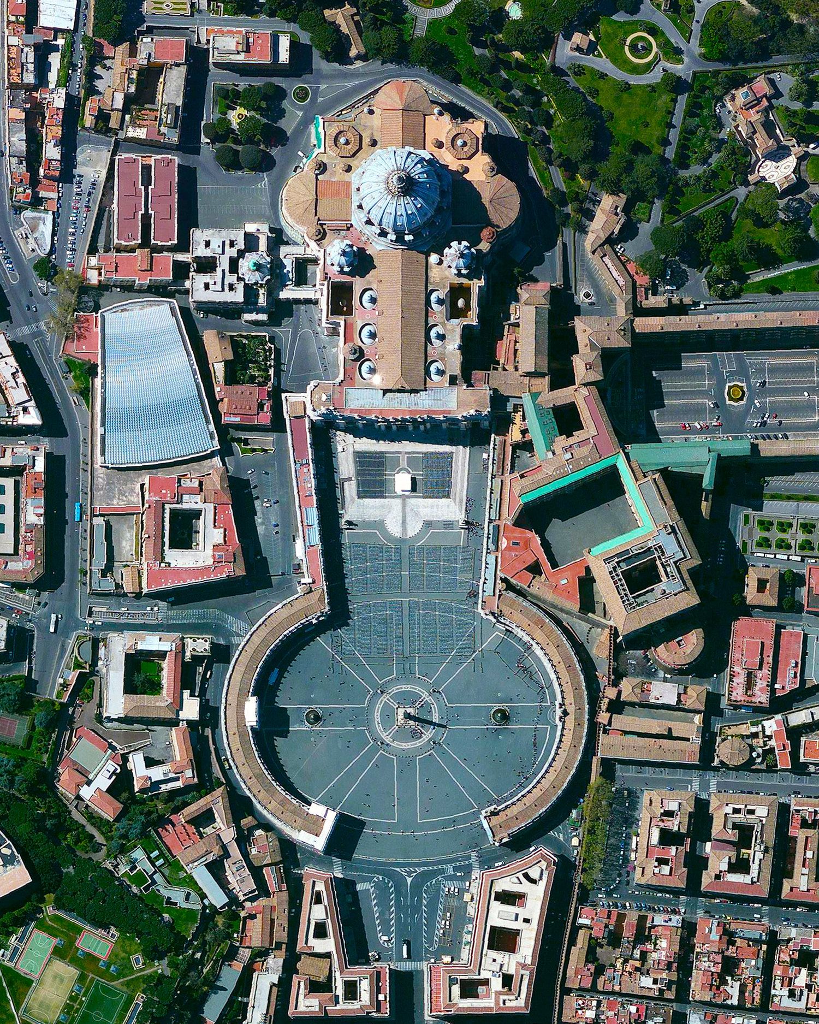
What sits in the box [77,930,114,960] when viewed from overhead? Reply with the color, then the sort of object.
green sports court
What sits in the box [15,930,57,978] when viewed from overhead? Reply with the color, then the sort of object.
green basketball court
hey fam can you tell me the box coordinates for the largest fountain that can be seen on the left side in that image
[302,706,324,728]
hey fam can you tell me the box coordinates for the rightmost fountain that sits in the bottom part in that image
[489,705,511,727]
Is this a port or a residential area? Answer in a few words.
residential area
